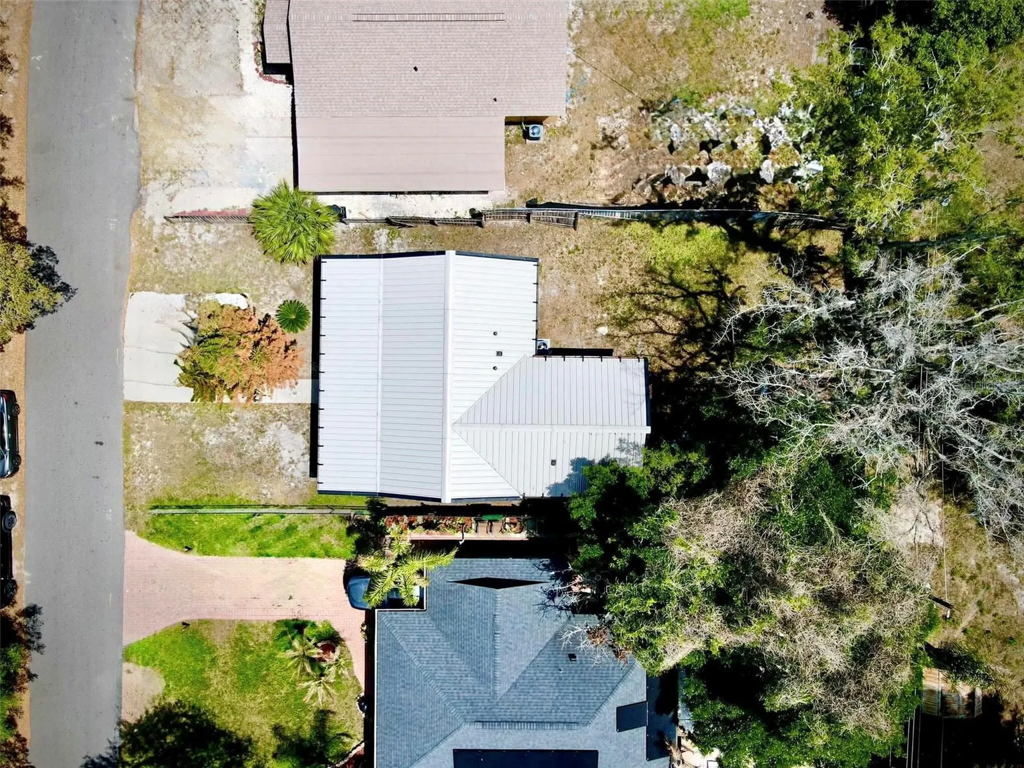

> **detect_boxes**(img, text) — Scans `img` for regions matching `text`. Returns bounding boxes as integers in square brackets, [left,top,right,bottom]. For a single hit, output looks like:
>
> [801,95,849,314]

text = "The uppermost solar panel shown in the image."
[617,702,647,733]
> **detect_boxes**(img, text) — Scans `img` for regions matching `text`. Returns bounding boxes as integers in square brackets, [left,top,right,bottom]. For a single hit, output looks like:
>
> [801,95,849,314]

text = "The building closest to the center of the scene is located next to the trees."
[315,246,655,508]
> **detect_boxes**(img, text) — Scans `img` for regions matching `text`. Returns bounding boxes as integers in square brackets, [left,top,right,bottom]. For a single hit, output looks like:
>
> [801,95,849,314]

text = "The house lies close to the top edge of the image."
[259,0,569,194]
